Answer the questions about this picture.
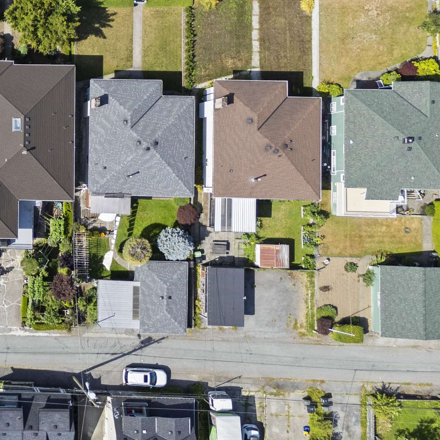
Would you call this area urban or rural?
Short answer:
urban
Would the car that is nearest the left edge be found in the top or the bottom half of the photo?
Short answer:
bottom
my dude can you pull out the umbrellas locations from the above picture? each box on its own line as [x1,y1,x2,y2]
[102,251,115,270]
[98,213,116,226]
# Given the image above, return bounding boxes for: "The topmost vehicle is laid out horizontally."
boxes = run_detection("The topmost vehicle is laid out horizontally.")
[122,367,166,388]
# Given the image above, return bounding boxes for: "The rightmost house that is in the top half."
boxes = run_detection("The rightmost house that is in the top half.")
[323,80,440,217]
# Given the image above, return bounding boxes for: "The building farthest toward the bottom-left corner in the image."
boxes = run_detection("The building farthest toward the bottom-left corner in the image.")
[0,383,75,440]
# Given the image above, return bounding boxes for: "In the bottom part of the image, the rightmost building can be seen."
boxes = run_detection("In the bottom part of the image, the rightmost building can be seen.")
[370,265,440,340]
